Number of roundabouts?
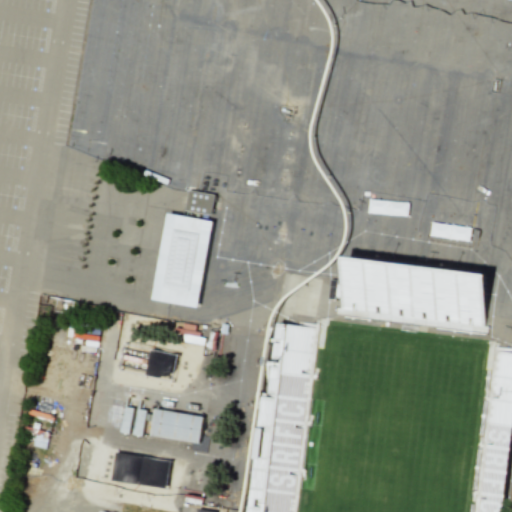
zero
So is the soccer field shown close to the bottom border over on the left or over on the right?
right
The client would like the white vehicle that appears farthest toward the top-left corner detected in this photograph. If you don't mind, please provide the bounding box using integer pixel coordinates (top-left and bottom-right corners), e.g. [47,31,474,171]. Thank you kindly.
[146,169,174,186]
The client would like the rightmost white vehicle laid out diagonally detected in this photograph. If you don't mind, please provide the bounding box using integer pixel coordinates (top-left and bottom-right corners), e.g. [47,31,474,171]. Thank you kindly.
[477,184,493,198]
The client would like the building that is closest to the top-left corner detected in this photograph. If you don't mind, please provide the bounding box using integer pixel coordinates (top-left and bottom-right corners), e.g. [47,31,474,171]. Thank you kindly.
[188,190,218,212]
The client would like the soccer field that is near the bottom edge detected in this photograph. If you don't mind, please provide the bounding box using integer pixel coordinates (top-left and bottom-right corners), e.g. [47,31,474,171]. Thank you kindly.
[300,321,490,512]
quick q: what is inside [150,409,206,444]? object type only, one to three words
building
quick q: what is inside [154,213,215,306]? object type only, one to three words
building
